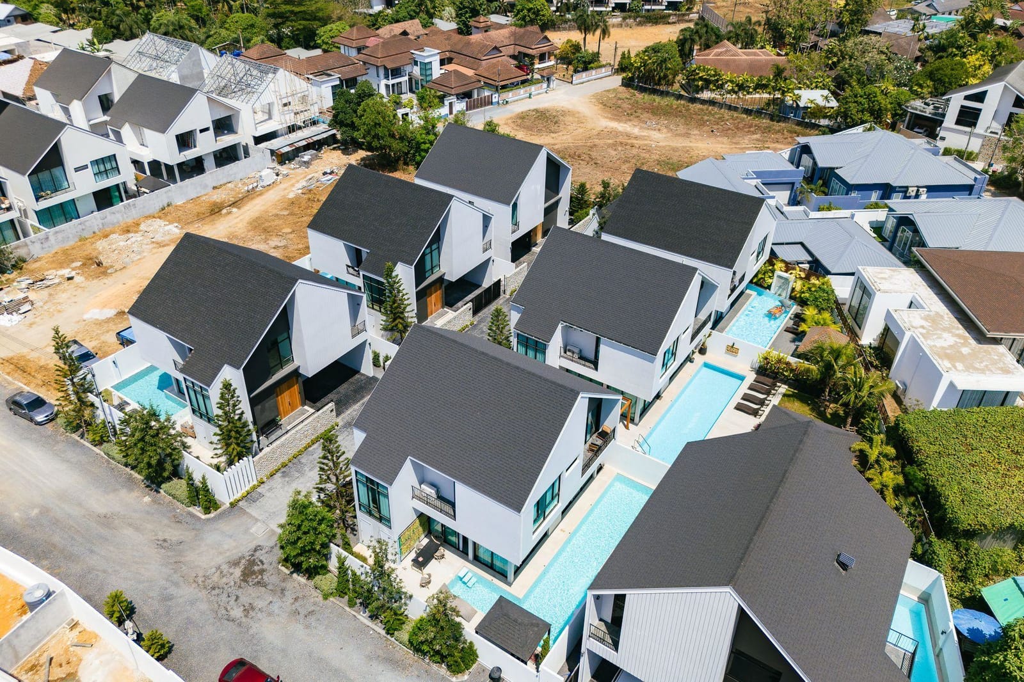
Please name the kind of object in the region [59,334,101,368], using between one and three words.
truck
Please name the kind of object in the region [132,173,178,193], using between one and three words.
gazebo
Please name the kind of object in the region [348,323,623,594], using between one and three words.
house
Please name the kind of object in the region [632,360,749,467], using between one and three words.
swimming pool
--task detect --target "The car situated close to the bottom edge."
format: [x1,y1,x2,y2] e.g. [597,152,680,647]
[215,656,278,682]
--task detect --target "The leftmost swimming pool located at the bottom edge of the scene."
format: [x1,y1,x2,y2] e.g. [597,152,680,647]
[441,472,653,659]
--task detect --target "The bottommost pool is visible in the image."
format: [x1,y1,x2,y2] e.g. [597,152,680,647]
[890,593,943,682]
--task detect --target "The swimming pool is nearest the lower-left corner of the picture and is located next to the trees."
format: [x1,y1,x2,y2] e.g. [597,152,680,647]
[108,365,194,429]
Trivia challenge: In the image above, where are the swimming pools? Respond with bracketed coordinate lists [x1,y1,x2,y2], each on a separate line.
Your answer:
[890,593,943,682]
[632,360,749,467]
[723,292,797,347]
[108,365,194,429]
[441,472,653,659]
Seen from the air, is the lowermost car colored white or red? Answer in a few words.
red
